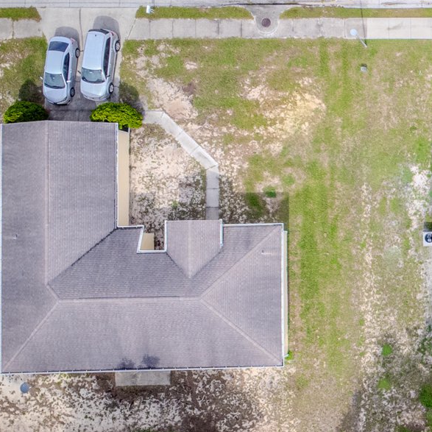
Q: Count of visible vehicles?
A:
2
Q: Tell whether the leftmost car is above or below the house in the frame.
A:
above it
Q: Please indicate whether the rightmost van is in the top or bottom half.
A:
top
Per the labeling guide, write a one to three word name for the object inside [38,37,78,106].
car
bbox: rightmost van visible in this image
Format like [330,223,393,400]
[76,29,117,102]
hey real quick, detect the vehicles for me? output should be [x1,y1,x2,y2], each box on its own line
[76,29,117,102]
[38,37,78,106]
